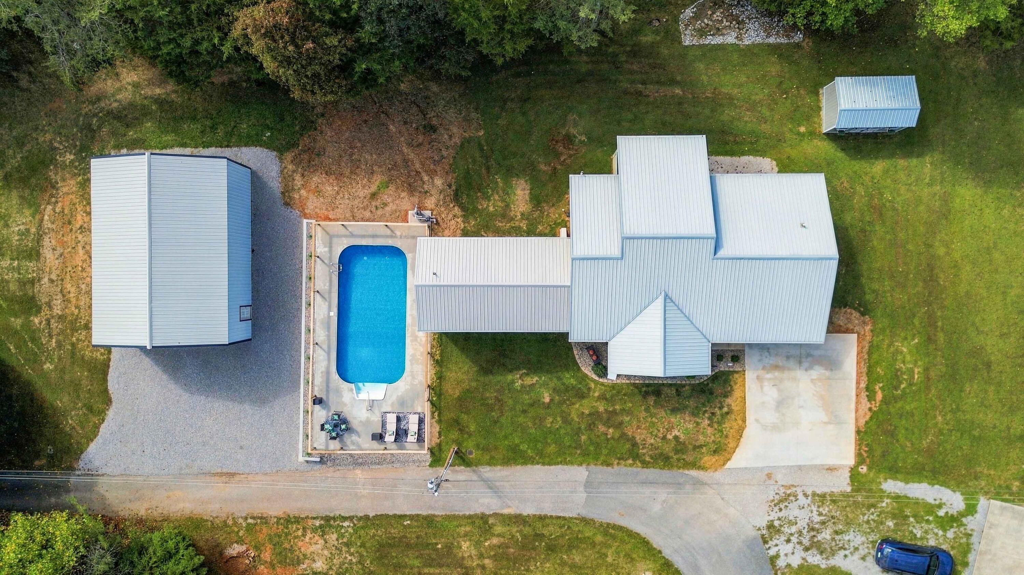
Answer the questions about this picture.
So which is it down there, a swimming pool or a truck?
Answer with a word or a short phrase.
swimming pool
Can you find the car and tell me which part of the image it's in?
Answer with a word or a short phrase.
bottom right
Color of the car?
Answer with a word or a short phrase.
blue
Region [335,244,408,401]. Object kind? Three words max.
swimming pool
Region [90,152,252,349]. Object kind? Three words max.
building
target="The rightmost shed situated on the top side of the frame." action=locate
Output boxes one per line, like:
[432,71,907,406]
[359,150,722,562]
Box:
[823,76,922,136]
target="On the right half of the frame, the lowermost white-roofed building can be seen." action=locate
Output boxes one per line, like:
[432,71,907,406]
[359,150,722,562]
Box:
[414,133,840,378]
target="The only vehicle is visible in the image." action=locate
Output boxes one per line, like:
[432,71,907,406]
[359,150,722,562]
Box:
[875,539,955,575]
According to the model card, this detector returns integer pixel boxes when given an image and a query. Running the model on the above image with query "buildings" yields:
[414,133,840,378]
[90,152,252,349]
[823,76,922,136]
